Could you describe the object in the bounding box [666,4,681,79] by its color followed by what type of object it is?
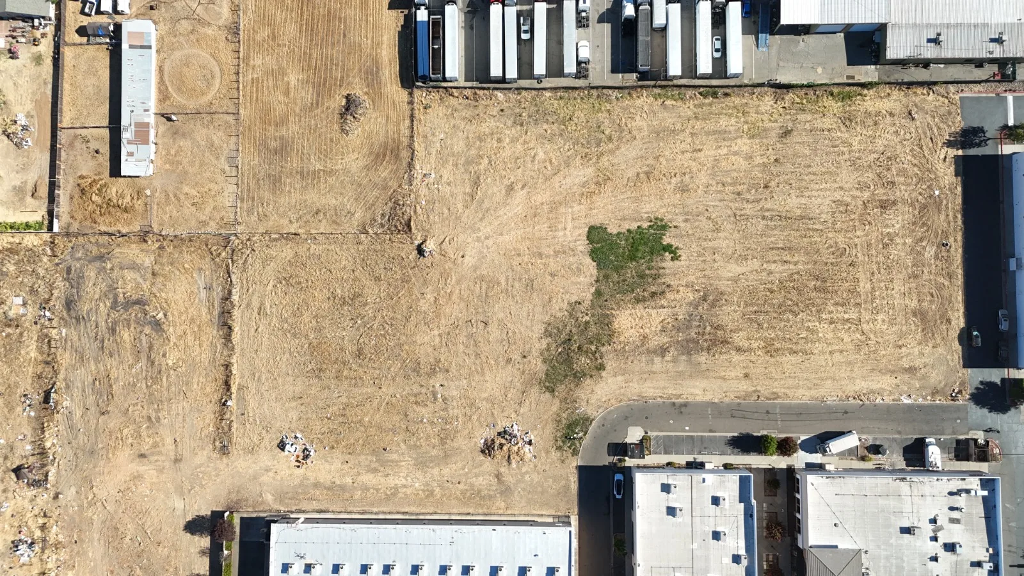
white trailer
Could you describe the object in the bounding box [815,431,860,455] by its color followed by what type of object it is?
white truck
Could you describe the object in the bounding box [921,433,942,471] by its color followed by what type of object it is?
white truck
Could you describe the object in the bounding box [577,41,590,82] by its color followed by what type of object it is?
white vehicle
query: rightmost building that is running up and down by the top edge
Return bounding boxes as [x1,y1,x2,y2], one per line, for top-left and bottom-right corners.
[121,20,156,178]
